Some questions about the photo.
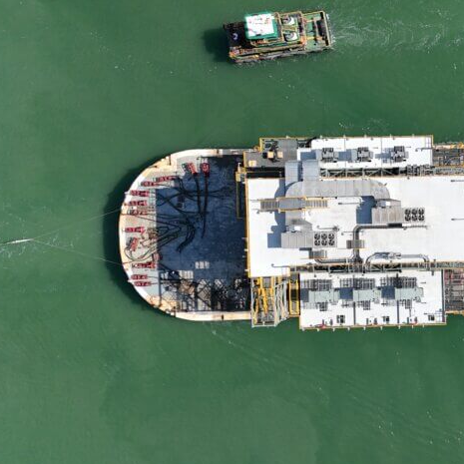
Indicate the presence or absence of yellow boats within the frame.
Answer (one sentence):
No, no yellow boat can be seen from above.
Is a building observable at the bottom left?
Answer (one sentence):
No, there's no building to be seen at the bottom left.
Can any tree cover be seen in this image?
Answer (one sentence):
No, there is no tree cover in the image.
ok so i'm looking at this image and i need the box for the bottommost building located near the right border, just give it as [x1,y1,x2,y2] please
[299,270,447,333]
